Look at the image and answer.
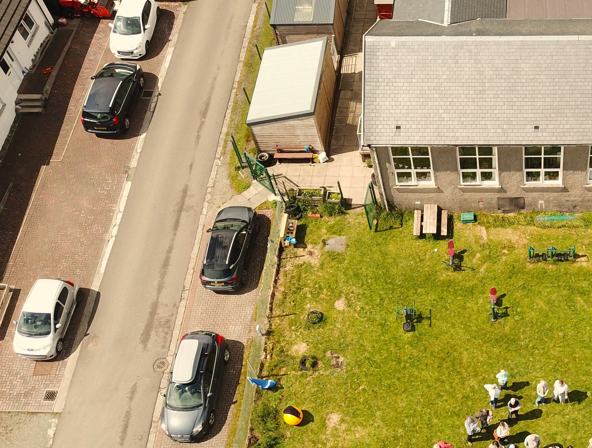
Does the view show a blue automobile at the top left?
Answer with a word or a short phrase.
No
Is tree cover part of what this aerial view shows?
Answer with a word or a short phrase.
No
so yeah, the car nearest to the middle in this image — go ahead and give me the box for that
[195,204,262,294]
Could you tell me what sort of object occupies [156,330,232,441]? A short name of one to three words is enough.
car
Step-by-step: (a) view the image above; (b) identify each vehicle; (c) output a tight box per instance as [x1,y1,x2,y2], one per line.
[156,330,232,441]
[11,277,86,361]
[195,204,262,294]
[82,63,146,136]
[107,0,162,57]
